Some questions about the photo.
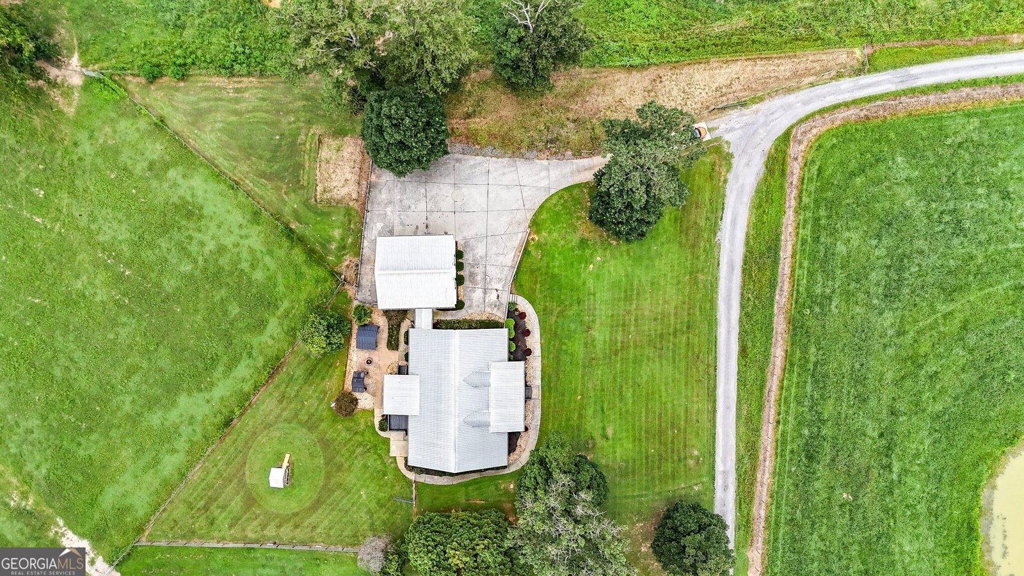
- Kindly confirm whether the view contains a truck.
No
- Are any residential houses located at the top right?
No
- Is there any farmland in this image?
Yes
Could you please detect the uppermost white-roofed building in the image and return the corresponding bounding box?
[374,234,457,310]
